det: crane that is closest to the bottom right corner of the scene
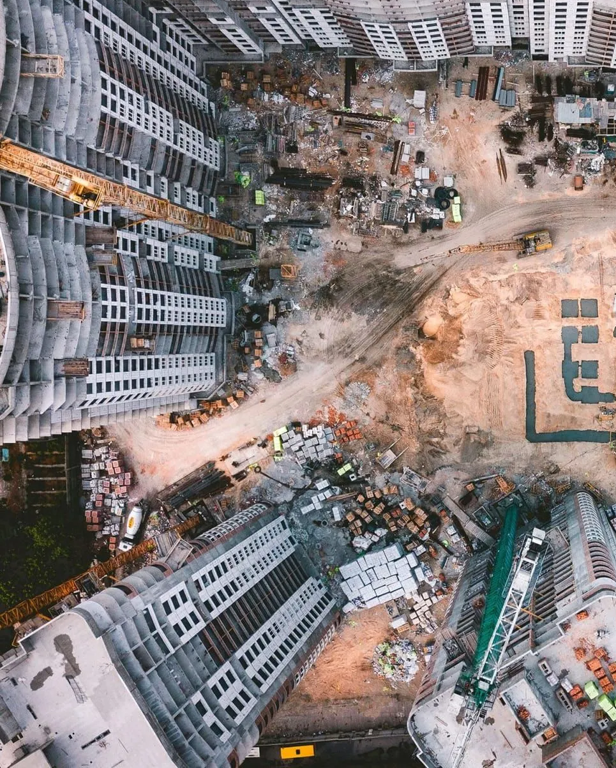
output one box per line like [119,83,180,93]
[439,488,557,768]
